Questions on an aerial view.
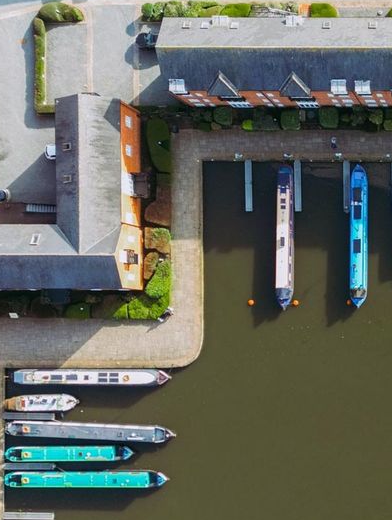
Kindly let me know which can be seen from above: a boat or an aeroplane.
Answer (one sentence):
Visible in the photo is a boat.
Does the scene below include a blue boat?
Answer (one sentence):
Yes, there's a blue boat here.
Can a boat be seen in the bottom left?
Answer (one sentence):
Yes, the scene does show a boat in the bottom left.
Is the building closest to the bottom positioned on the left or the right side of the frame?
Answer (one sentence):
The building closest to the bottom appears in the left half of the scene.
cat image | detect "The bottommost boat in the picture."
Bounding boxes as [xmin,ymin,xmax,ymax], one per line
[1,469,170,488]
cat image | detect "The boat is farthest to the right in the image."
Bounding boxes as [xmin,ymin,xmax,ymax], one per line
[349,163,368,310]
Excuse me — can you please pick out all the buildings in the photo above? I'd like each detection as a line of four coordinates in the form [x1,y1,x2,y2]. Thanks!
[0,90,154,304]
[157,16,392,111]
